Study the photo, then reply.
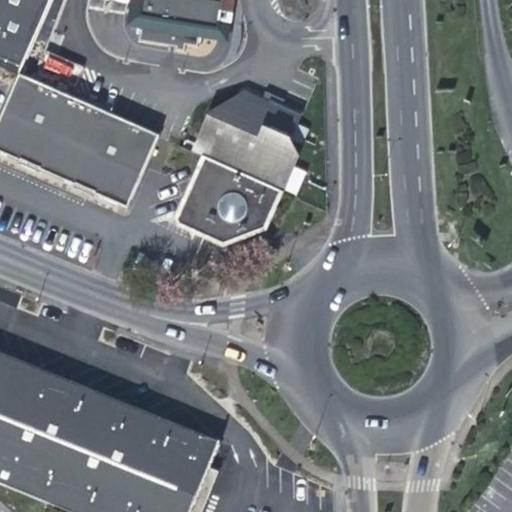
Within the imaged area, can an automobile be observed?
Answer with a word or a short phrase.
Yes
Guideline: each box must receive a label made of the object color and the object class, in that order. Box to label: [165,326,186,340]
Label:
white car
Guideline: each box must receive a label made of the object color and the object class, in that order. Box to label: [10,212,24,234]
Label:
gray car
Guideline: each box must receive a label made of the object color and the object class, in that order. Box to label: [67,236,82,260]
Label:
white car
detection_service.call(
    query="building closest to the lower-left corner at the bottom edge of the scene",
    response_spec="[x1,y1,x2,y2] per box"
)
[0,350,222,512]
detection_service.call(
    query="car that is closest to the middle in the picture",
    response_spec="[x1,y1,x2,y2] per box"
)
[266,286,292,302]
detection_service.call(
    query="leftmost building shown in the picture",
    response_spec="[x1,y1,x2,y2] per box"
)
[0,0,53,75]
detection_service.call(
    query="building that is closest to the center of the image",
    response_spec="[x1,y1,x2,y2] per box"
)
[177,156,284,246]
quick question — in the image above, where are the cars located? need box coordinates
[10,212,24,234]
[330,288,346,312]
[168,166,192,182]
[254,360,277,377]
[266,286,292,302]
[116,338,138,352]
[43,228,58,251]
[366,418,388,428]
[165,326,186,340]
[322,246,338,270]
[196,306,216,315]
[42,307,62,319]
[92,76,105,98]
[262,504,272,512]
[296,480,306,500]
[338,16,349,40]
[0,208,14,232]
[224,347,246,360]
[418,456,428,476]
[33,222,46,242]
[67,236,82,260]
[78,240,94,264]
[108,84,120,105]
[243,504,262,512]
[162,252,175,274]
[54,231,70,253]
[20,217,36,240]
[154,202,177,215]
